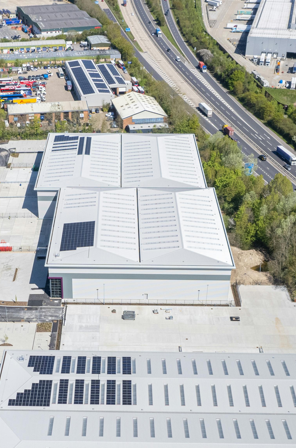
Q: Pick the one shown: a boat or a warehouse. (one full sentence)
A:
I can see a warehouse in this picture.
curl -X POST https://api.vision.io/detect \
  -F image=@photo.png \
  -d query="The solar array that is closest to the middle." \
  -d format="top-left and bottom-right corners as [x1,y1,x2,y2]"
[60,220,95,252]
